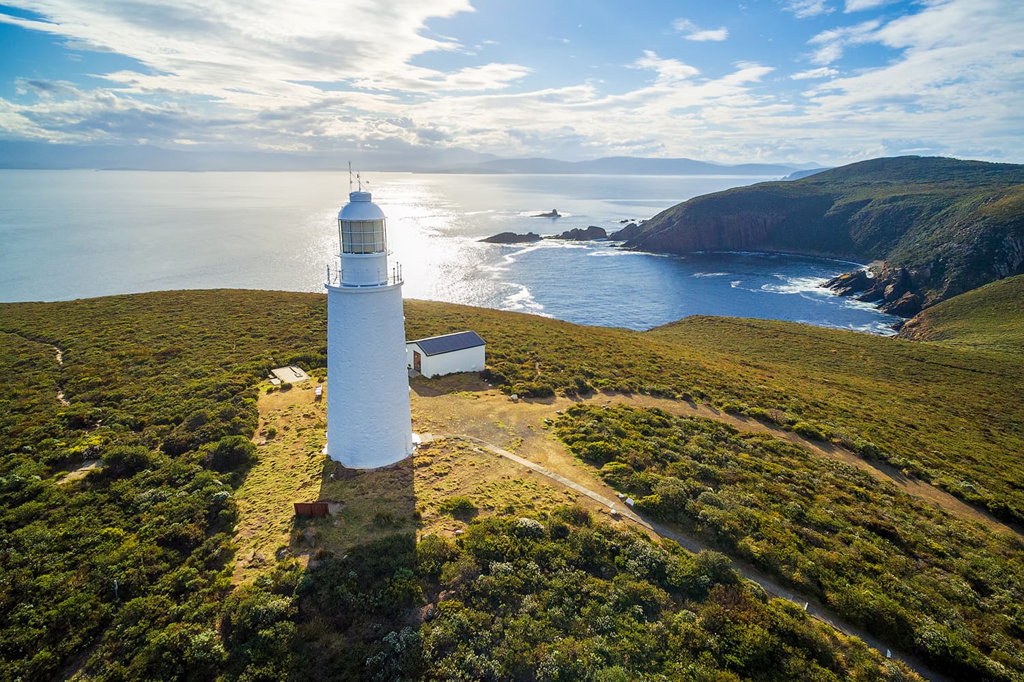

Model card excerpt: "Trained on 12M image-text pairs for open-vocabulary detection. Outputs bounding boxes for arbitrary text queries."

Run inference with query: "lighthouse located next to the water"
[320,162,422,471]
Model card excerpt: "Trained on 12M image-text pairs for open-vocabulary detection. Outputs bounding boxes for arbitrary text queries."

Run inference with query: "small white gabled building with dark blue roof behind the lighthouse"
[408,335,489,378]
